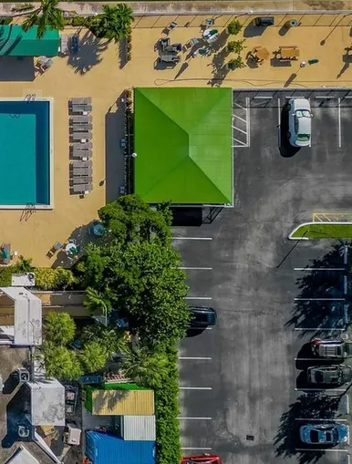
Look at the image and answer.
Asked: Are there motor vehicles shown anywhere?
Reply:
Yes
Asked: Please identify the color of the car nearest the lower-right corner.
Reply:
blue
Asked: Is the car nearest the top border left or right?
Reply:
right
